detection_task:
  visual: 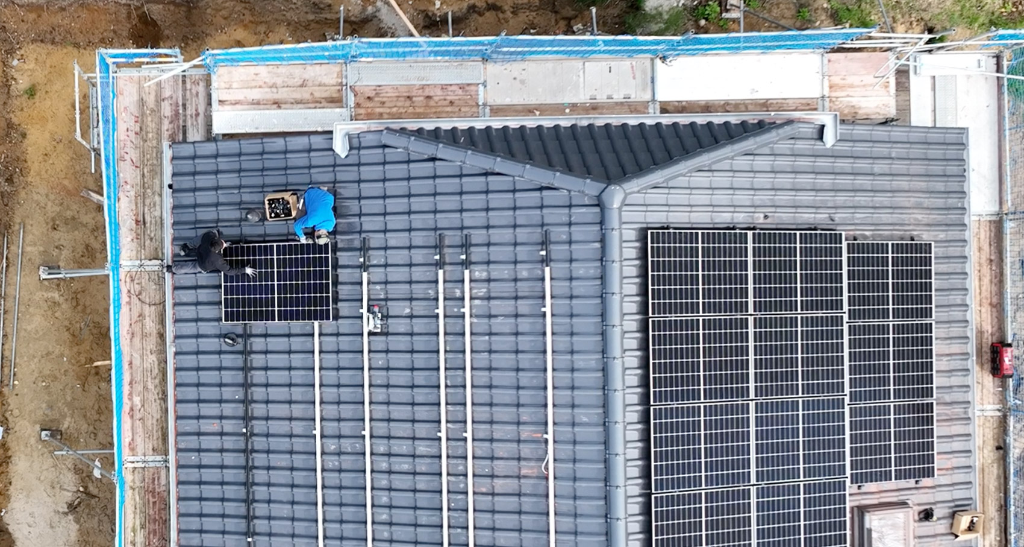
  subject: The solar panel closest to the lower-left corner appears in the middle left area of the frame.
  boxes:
[220,240,333,324]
